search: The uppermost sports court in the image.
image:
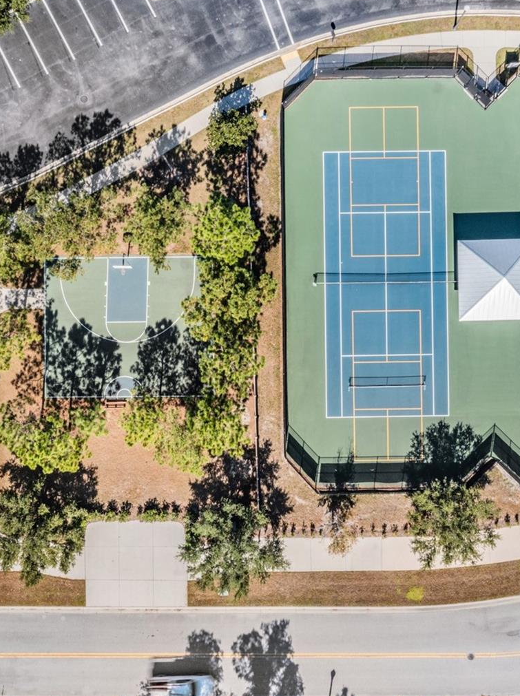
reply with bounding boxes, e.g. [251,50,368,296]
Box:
[349,106,421,256]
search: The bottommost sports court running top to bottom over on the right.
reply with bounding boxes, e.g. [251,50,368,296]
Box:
[352,310,423,460]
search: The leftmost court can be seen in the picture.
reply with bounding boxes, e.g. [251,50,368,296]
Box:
[44,254,212,398]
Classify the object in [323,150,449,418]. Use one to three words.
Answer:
tennis court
